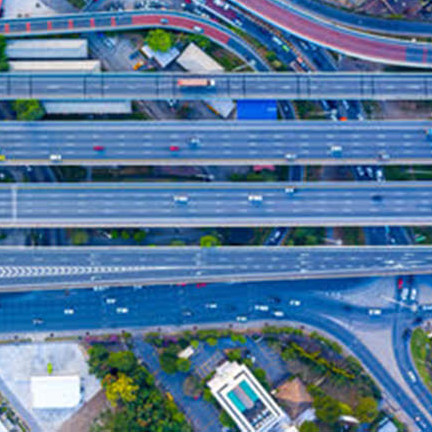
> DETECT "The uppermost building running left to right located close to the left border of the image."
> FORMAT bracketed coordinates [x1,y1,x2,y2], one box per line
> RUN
[5,38,90,59]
